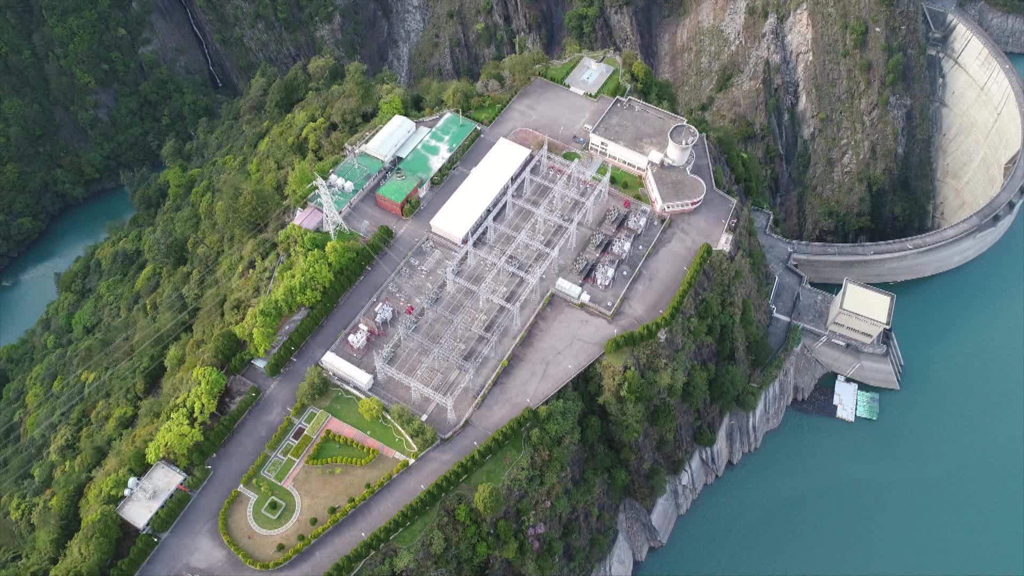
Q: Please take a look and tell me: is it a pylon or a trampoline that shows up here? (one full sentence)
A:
Visible in the photo is a pylon.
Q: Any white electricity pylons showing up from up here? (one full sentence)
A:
Yes, the image includes a white electricity pylon.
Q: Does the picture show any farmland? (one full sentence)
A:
No, farmland can't be seen anywhere here.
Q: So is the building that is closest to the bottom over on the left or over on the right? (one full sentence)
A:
The building that is closest to the bottom appears in the left half of the scene.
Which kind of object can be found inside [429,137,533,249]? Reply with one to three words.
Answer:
building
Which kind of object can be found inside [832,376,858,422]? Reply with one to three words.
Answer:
pier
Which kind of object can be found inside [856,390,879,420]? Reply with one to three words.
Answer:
pier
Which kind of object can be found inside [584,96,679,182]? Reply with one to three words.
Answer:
building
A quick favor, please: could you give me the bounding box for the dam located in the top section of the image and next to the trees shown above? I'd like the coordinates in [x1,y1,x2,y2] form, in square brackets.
[786,14,1024,288]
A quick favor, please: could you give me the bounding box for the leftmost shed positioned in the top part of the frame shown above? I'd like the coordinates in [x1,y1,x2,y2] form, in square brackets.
[293,206,322,238]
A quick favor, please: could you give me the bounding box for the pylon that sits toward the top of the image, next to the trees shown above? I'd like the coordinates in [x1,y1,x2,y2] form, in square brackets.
[309,173,346,244]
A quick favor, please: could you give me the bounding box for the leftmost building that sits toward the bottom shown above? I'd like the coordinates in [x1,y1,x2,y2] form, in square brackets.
[115,462,192,537]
